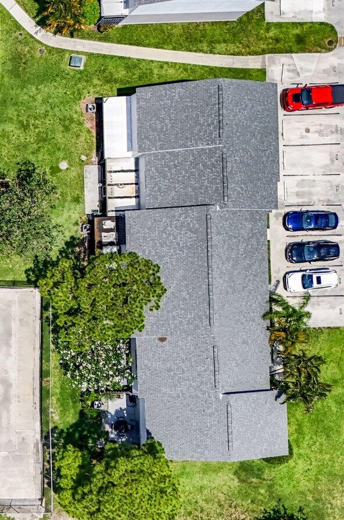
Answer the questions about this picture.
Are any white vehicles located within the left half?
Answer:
No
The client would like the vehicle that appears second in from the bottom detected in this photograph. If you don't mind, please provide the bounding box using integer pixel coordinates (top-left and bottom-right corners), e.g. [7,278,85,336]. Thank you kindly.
[282,240,339,264]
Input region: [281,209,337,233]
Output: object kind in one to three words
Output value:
car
